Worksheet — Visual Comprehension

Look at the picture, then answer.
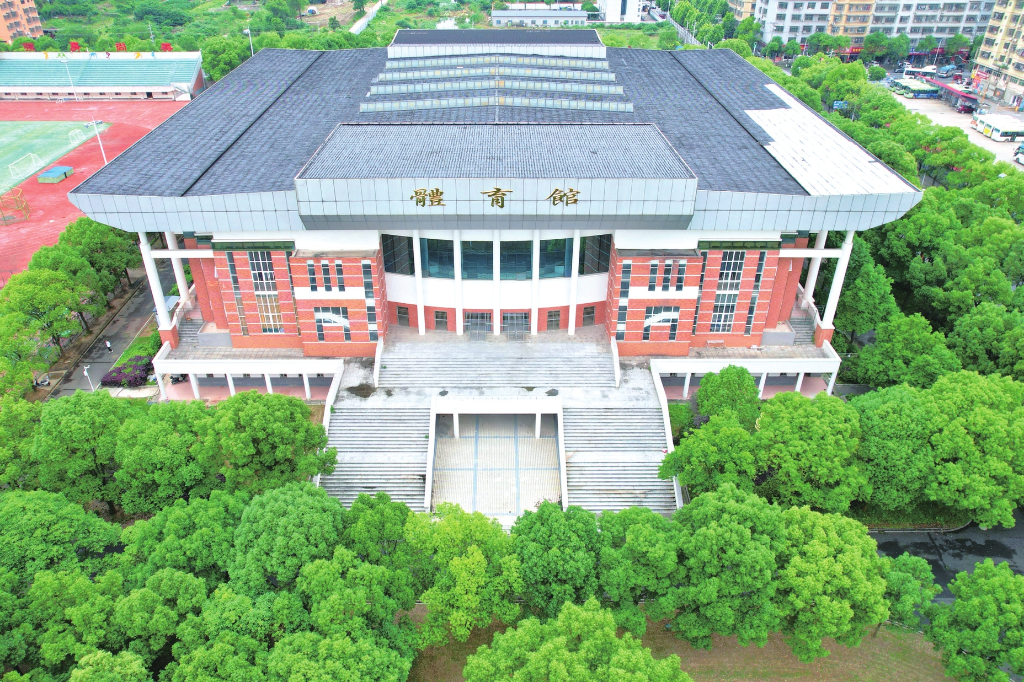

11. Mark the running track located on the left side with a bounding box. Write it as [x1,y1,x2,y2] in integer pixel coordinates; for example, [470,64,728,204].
[0,100,192,125]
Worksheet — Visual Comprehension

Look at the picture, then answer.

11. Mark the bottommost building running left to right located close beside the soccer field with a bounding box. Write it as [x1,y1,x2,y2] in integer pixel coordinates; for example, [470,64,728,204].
[68,28,926,356]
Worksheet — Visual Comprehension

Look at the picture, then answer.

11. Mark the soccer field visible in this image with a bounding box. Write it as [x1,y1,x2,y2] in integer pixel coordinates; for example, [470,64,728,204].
[0,122,110,193]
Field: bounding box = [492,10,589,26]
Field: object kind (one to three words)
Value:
shed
